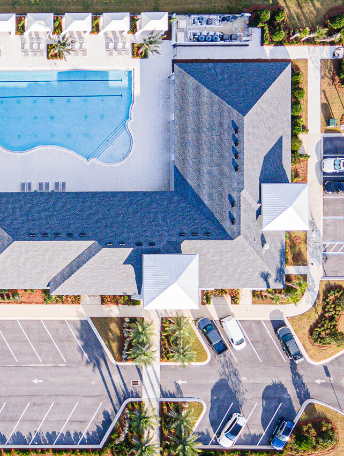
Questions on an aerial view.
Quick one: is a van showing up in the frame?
Yes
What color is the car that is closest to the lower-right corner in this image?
blue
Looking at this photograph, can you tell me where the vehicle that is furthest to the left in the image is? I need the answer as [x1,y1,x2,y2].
[197,315,228,356]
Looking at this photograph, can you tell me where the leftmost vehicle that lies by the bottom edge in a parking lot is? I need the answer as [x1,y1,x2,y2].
[218,411,245,446]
